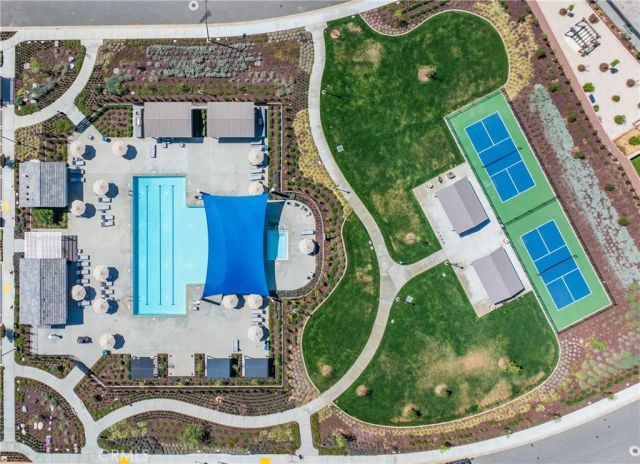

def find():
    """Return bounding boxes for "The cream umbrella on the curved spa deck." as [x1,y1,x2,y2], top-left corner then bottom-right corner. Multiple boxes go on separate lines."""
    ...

[298,238,314,255]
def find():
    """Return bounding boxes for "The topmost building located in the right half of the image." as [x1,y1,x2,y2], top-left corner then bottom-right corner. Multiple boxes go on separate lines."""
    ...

[432,176,489,236]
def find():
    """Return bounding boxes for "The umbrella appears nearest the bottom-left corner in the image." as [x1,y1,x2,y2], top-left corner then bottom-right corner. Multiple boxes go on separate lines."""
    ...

[99,333,116,349]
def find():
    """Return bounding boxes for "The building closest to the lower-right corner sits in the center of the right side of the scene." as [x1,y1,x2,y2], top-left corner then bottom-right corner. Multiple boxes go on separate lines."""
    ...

[468,246,526,306]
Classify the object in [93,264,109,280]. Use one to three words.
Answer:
umbrella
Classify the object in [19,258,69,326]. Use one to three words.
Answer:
building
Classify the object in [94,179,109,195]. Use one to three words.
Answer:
umbrella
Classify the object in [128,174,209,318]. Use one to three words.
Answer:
swimming pool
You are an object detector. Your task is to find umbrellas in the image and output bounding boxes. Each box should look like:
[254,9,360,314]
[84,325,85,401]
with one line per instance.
[222,293,238,309]
[71,140,87,156]
[248,149,264,165]
[94,179,109,195]
[93,298,109,315]
[298,238,314,255]
[246,293,262,310]
[248,326,264,342]
[248,179,264,196]
[71,284,88,300]
[113,141,129,156]
[99,333,116,349]
[93,264,109,280]
[70,200,86,216]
